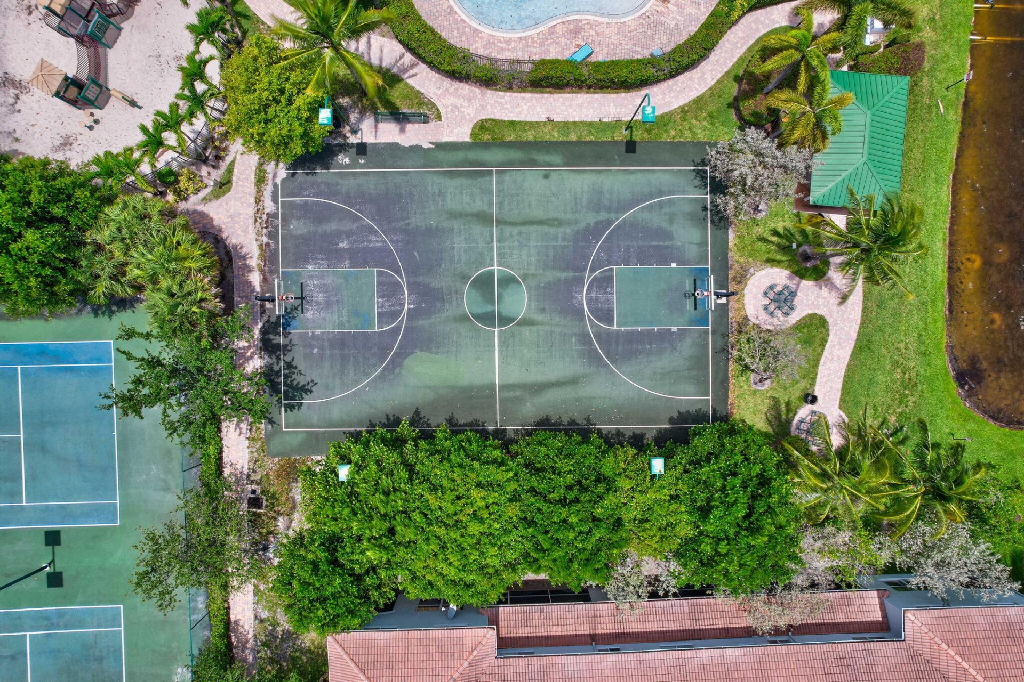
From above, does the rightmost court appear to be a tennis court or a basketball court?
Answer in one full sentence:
The rightmost court in the image is a basketball court.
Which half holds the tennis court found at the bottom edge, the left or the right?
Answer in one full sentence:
You can find the tennis court found at the bottom edge on the left side of the picture.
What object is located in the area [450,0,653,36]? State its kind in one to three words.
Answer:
swimming pool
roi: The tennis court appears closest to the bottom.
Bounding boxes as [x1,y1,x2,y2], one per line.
[0,605,125,682]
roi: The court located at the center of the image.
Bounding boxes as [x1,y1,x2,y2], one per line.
[262,141,729,457]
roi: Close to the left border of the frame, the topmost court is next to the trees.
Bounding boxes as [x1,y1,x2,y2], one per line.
[0,341,118,530]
